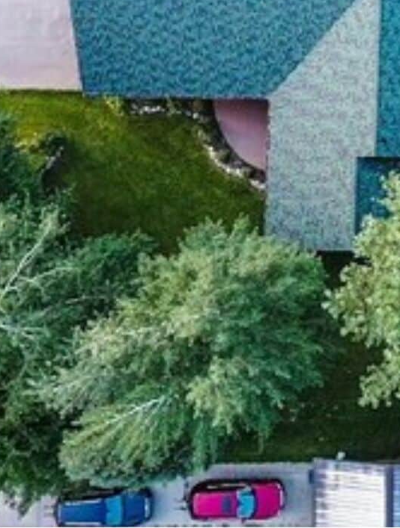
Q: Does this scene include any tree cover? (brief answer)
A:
Yes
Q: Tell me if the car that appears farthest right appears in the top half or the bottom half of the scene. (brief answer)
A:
bottom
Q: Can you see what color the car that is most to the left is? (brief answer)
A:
blue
